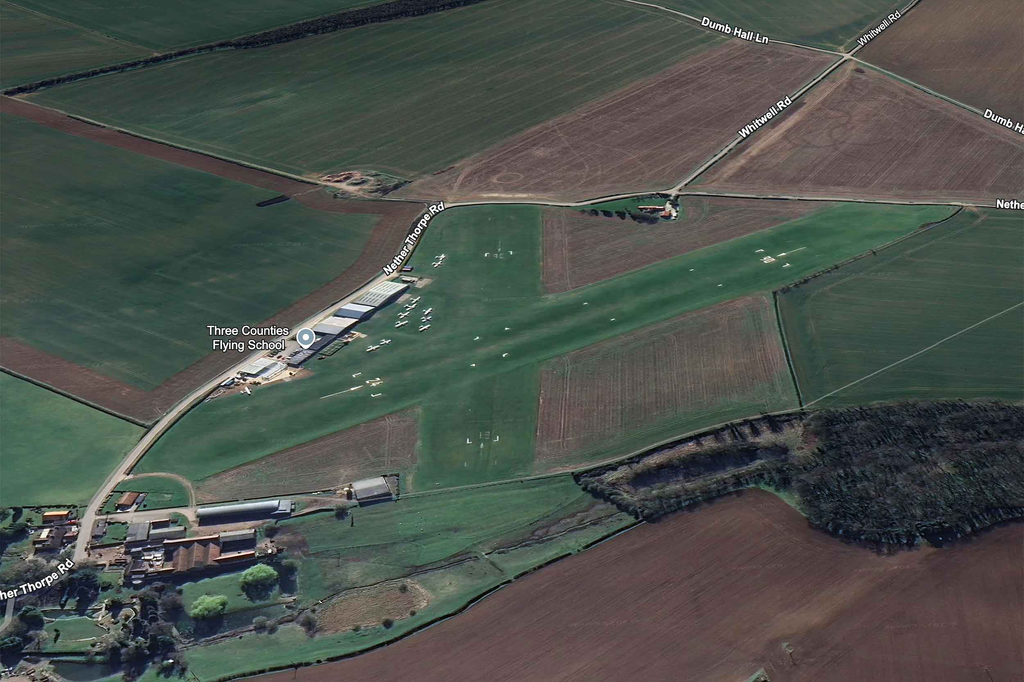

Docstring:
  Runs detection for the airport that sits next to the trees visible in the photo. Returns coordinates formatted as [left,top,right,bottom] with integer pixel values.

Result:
[132,196,960,502]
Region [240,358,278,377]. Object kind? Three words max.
hangar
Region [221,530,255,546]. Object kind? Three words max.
barn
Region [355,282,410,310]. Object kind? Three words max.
hangar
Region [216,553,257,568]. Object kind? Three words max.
barn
